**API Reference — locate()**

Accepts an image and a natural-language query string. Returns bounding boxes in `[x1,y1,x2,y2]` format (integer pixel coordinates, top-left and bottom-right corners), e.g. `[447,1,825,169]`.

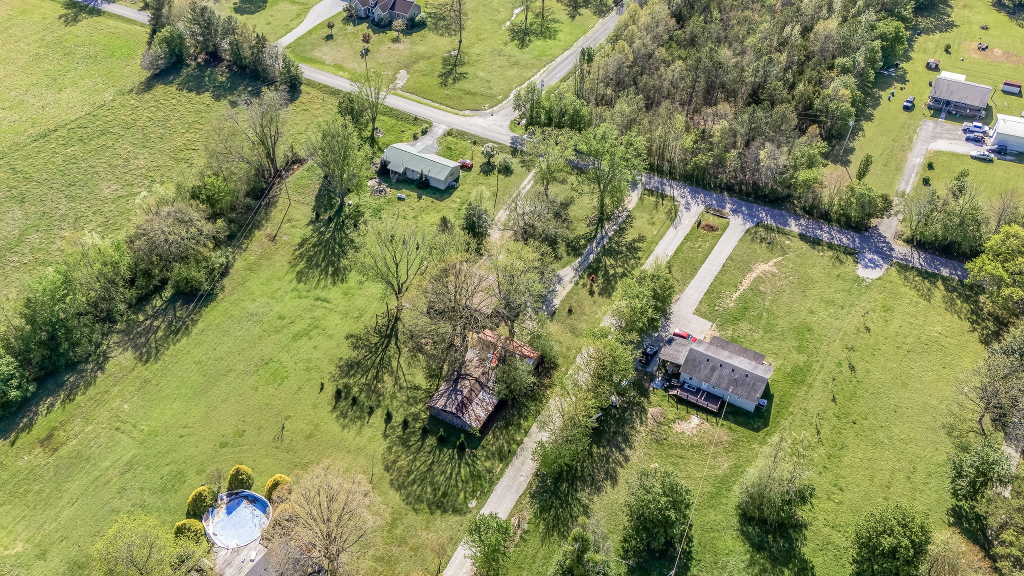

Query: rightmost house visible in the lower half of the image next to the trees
[658,336,774,419]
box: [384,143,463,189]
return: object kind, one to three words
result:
house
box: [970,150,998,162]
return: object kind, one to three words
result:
vehicle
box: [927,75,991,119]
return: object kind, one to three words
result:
house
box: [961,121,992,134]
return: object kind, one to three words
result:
vehicle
